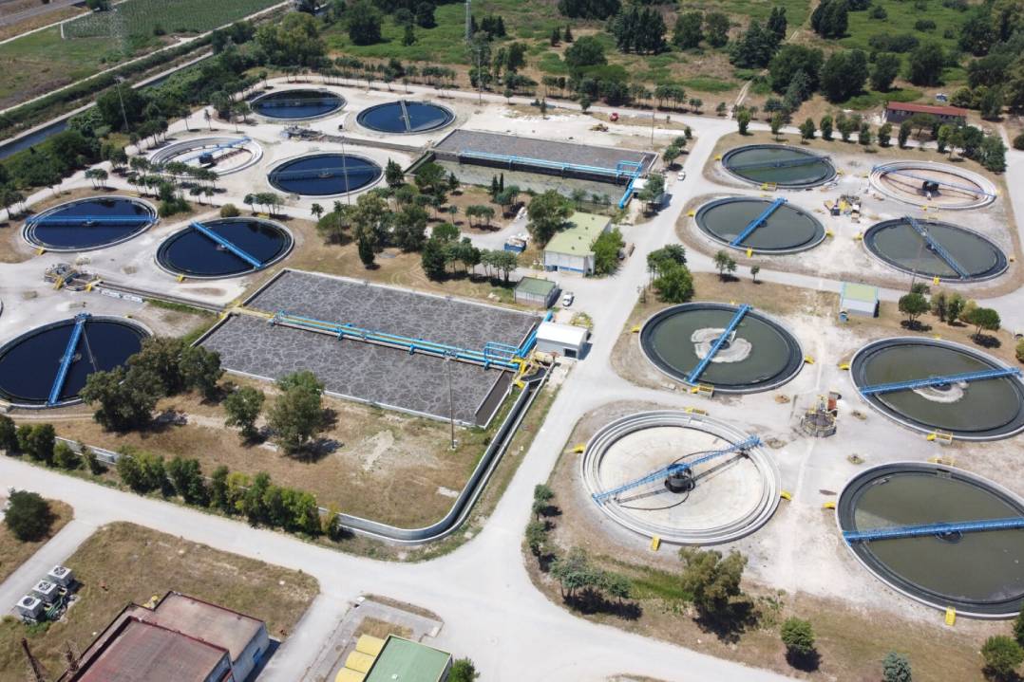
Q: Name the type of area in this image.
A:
industrial area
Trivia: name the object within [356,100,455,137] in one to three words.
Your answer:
storage tank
